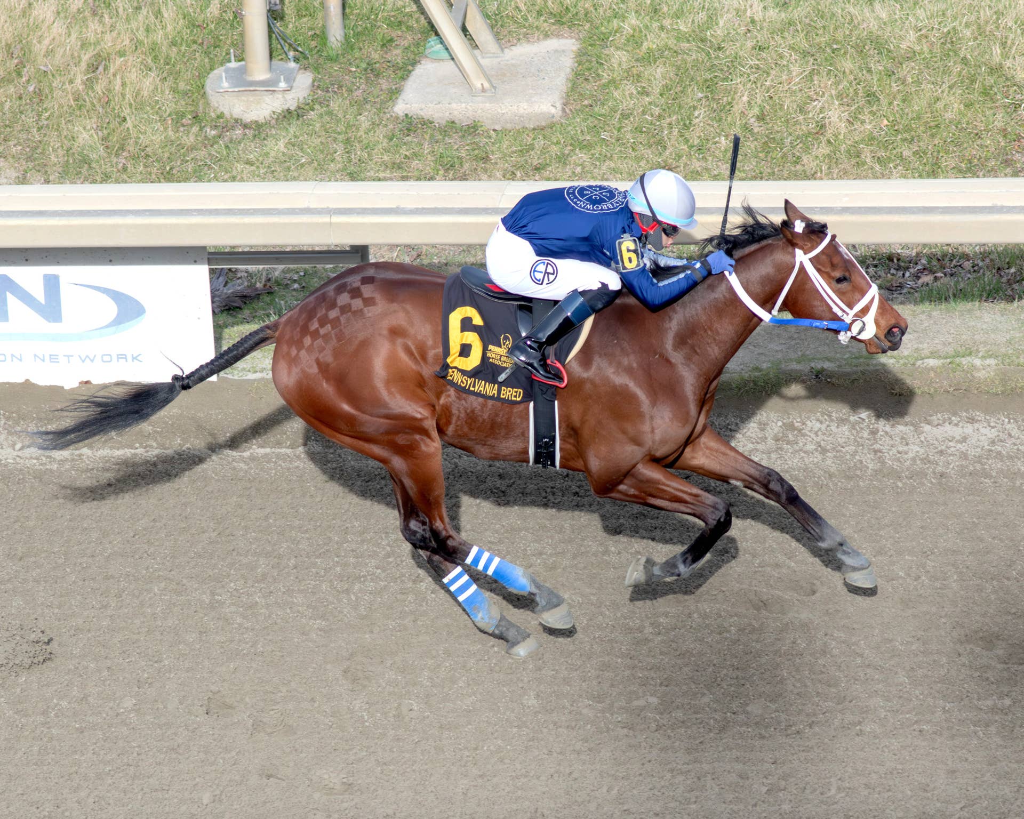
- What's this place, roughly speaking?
sports ground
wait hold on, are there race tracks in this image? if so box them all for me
[0,373,1024,819]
